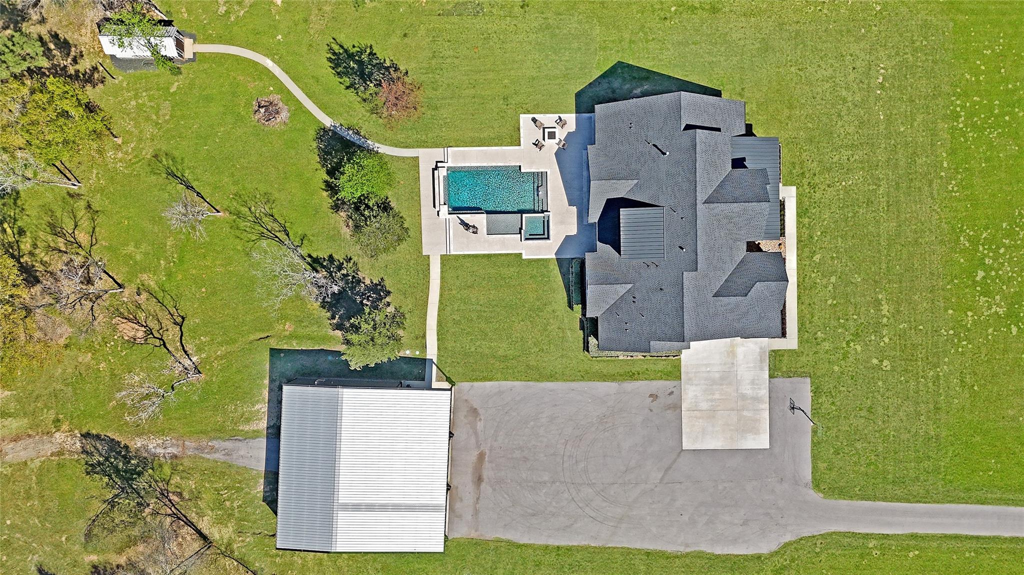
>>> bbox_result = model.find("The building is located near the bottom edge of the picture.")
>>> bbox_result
[276,378,453,557]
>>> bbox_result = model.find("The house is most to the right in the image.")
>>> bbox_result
[585,92,789,352]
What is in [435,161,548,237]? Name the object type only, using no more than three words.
swimming pool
